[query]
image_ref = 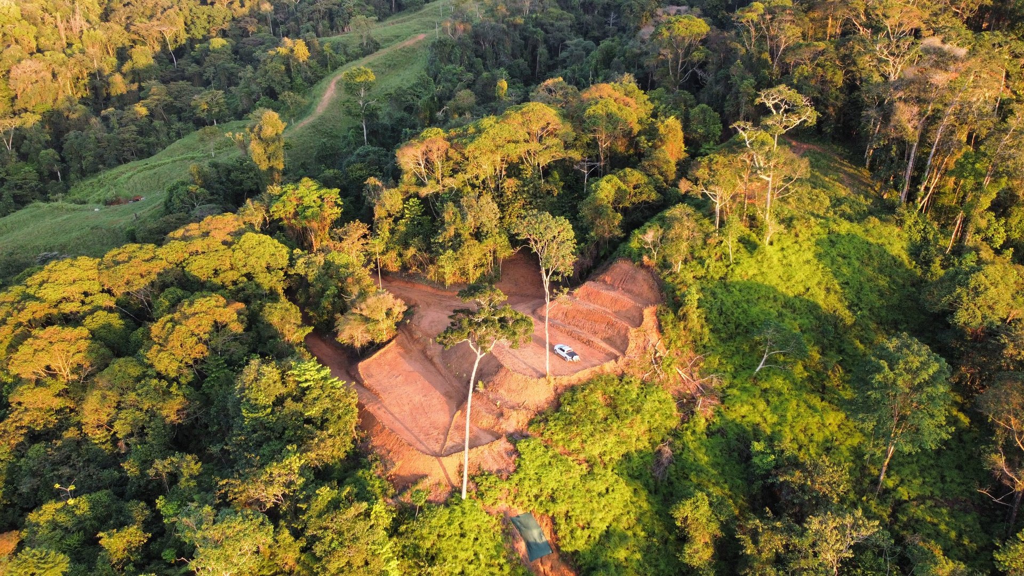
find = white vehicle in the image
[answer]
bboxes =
[554,344,581,360]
